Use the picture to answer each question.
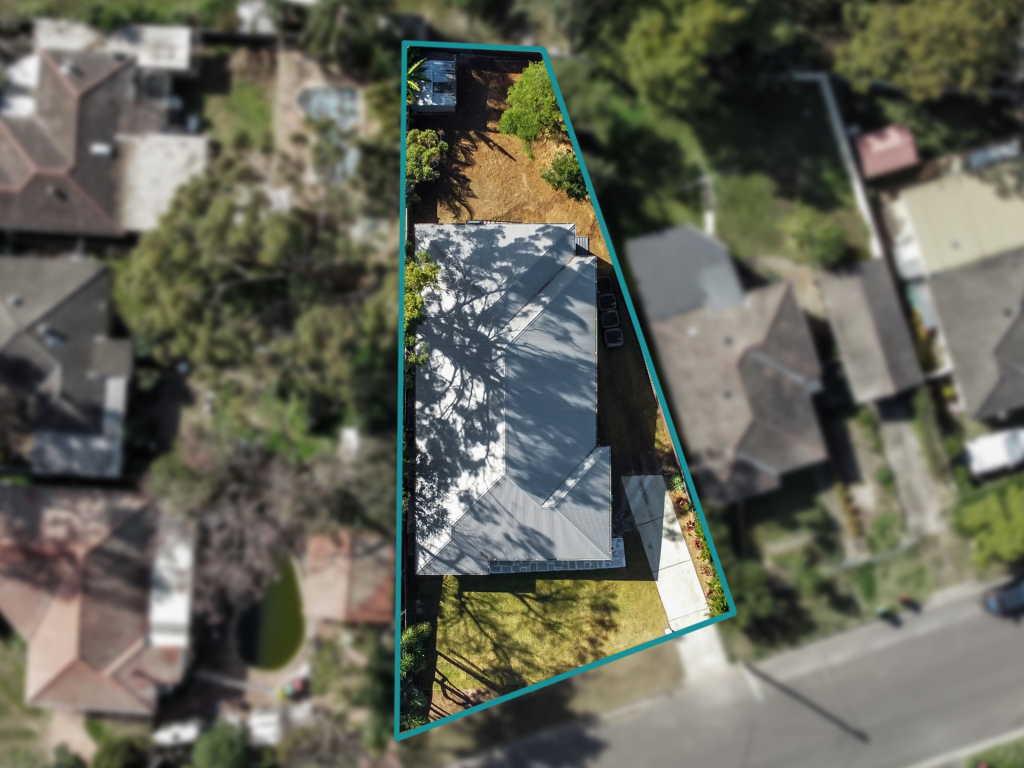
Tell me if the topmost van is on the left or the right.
right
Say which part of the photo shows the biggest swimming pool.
bottom left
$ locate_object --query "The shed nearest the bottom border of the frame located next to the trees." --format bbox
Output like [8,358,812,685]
[252,700,291,751]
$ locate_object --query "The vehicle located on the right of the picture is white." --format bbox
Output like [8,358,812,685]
[954,429,1024,475]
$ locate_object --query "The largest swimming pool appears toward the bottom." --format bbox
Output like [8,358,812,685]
[230,548,308,673]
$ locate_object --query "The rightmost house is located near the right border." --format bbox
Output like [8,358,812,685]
[928,246,1024,420]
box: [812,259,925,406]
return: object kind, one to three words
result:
building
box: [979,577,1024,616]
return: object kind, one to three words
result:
car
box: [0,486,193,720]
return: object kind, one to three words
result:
house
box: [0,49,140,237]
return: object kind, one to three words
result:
house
